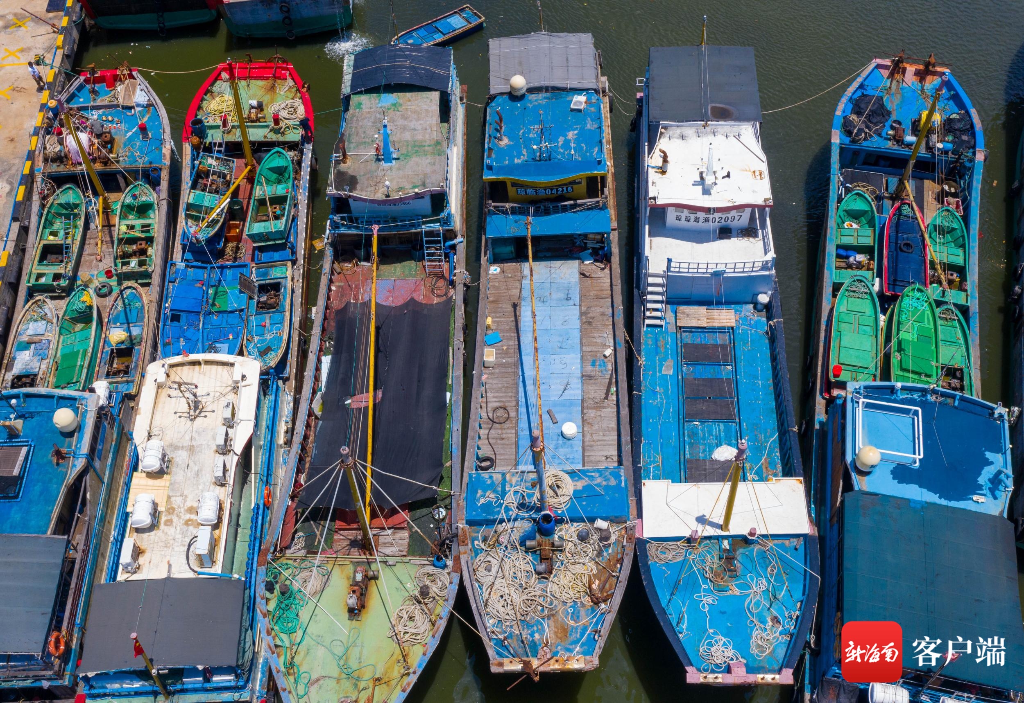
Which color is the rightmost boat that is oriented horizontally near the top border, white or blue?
blue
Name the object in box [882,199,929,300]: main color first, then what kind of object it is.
blue boat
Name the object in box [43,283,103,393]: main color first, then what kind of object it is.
green boat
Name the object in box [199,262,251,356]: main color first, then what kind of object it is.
blue boat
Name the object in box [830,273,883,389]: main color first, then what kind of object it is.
green boat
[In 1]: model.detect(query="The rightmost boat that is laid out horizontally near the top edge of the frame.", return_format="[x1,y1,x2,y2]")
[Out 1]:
[392,6,483,43]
